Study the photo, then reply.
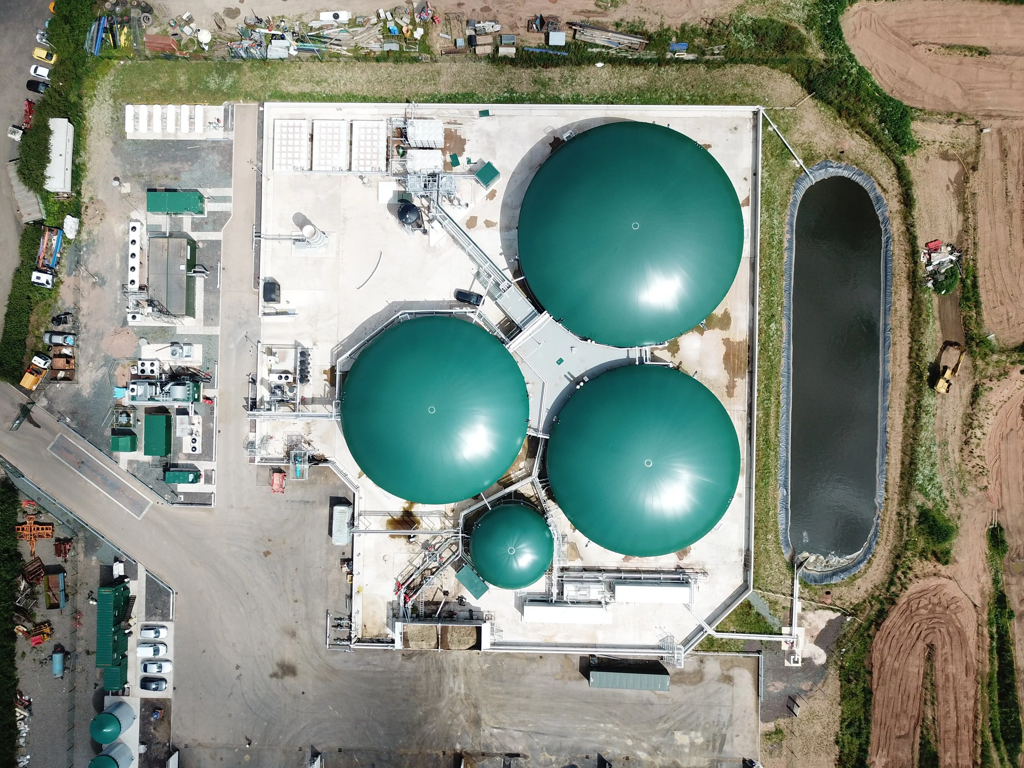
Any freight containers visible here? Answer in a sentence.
Yes, a freight container is visible in the scene.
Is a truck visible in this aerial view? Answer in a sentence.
Yes, the image includes a truck.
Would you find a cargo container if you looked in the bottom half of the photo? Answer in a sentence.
Yes, a cargo container can be seen in the bottom half of the photo.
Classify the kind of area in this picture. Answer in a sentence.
It's an industrial area.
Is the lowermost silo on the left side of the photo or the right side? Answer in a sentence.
The lowermost silo is on the left side of the image.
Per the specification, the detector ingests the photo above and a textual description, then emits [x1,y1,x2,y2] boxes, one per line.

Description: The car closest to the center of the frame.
[454,288,485,306]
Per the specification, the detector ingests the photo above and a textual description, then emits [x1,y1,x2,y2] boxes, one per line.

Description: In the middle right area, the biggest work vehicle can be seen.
[930,346,966,393]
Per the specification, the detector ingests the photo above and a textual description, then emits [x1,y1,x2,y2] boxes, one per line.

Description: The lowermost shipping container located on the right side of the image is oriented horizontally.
[587,664,670,691]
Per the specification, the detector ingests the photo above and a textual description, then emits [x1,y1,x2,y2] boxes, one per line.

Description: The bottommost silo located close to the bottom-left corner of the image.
[84,740,136,768]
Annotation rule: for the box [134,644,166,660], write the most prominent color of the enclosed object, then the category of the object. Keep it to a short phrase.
white car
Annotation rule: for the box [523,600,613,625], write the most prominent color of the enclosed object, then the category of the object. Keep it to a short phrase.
white shipping container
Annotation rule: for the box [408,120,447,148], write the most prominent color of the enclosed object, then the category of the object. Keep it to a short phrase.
white water tank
